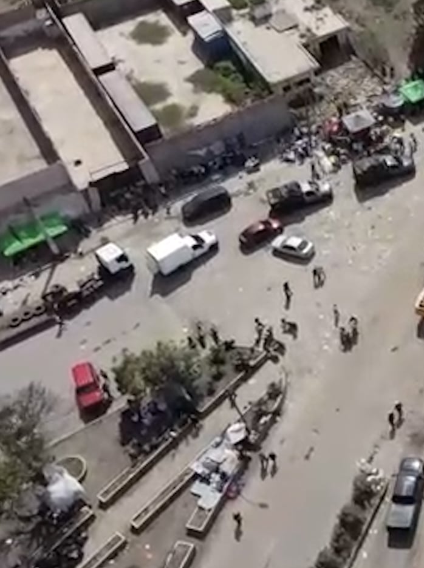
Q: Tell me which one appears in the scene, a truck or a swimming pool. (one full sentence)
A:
I can see a truck in this picture.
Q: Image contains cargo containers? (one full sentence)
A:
Yes, a cargo container is visible in the scene.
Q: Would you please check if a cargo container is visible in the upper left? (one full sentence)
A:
Yes, a cargo container shows up in the upper left.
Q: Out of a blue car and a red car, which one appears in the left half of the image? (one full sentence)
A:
What appears in the left half of the image is a red car.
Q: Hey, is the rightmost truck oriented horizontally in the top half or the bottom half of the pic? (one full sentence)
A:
The rightmost truck oriented horizontally is in the top half of the image.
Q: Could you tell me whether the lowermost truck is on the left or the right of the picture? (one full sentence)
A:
The lowermost truck is on the right side of the image.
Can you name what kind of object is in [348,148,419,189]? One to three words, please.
truck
